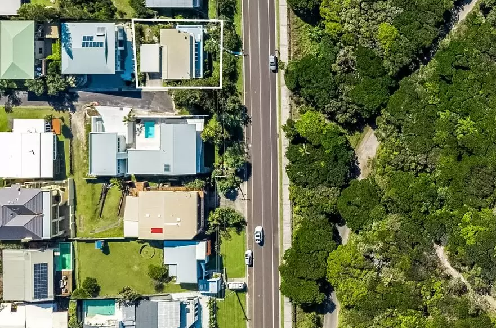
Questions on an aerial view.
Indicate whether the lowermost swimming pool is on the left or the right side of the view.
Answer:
left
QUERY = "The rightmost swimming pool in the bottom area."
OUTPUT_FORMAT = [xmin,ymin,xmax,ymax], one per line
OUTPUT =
[85,298,117,319]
